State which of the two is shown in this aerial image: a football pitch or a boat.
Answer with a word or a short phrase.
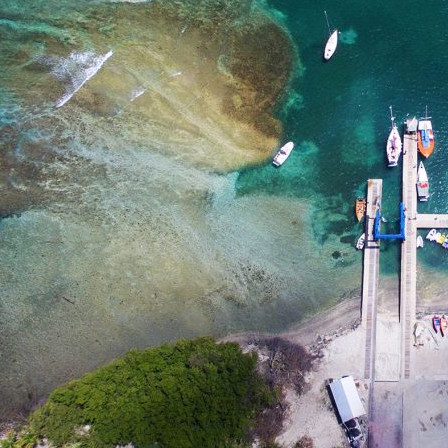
boat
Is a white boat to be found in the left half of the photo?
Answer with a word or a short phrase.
No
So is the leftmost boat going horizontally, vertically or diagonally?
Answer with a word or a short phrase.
diagonally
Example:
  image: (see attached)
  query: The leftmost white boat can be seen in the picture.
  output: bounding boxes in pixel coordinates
[271,142,293,169]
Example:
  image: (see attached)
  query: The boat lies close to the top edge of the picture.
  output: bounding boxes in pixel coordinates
[324,7,339,62]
